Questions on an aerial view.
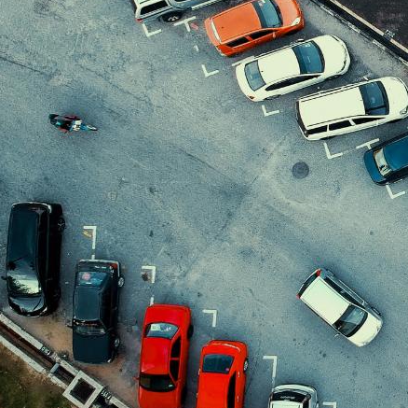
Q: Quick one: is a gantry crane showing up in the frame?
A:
No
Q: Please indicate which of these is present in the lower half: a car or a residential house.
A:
car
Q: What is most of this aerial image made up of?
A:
paved ground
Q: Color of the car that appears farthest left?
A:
black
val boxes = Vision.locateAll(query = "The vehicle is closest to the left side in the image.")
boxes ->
[1,202,67,318]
